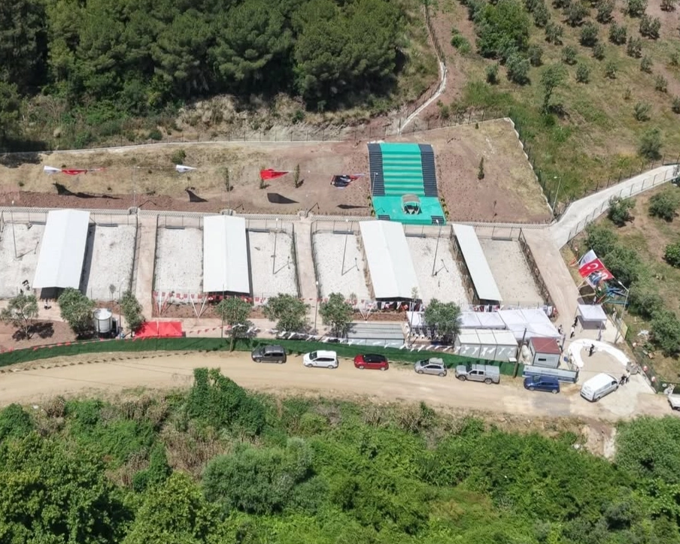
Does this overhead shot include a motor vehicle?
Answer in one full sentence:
Yes, I can see a motor vehicle in this picture.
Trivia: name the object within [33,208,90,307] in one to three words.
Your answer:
shed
